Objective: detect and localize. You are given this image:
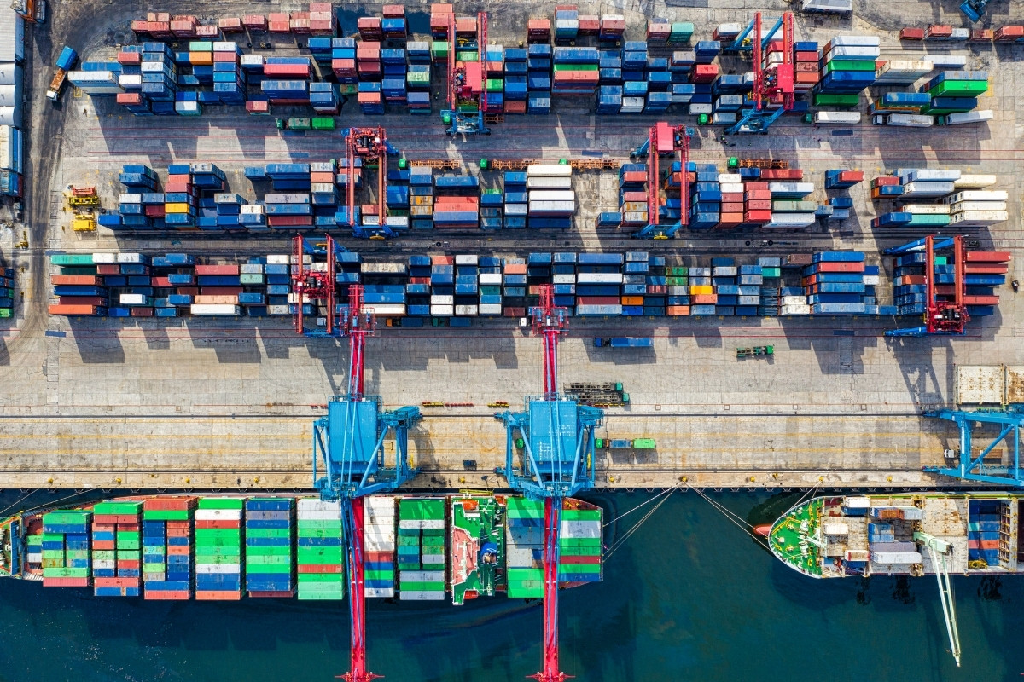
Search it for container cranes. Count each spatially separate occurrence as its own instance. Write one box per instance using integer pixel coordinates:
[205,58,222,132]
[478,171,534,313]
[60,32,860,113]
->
[292,235,357,336]
[445,11,494,137]
[307,285,432,682]
[923,405,1024,493]
[344,126,404,239]
[879,235,965,336]
[495,285,602,682]
[725,11,795,137]
[632,122,693,239]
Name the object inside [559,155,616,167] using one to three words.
vehicle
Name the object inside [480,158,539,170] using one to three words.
vehicle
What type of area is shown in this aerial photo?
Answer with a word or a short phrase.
port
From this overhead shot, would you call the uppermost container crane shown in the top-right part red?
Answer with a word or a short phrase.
Yes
